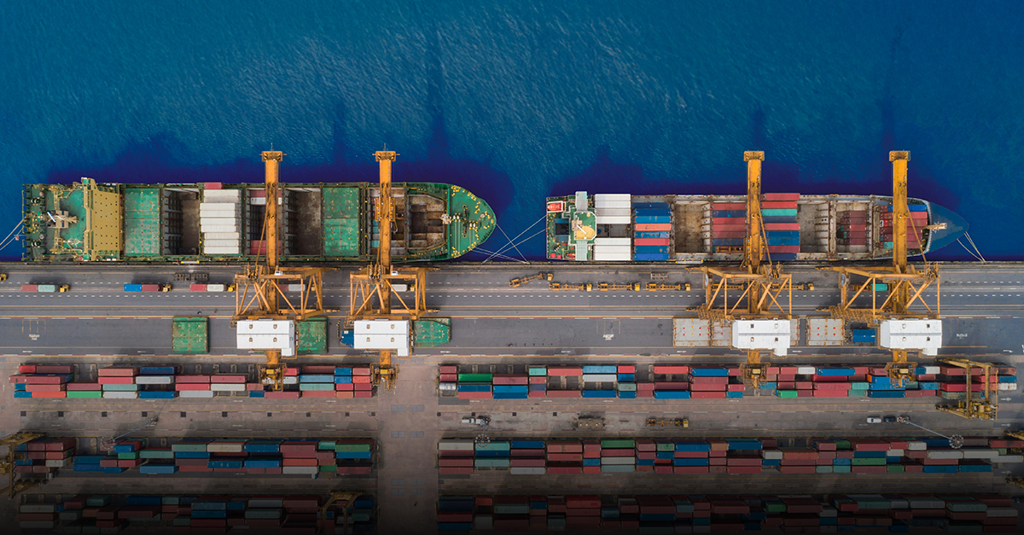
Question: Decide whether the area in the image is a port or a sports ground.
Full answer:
This image shows a port.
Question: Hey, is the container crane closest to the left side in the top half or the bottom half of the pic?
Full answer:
The container crane closest to the left side is in the bottom half of the image.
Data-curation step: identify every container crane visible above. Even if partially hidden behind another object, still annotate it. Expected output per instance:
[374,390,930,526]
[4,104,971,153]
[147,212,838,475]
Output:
[341,144,445,390]
[319,491,362,535]
[934,358,993,420]
[822,150,943,390]
[0,433,48,500]
[687,150,793,390]
[227,144,339,390]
